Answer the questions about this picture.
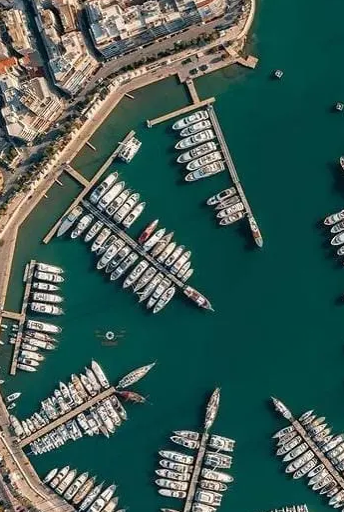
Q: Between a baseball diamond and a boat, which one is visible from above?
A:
boat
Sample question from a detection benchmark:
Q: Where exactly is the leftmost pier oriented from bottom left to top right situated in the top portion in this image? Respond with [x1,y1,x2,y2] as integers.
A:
[43,133,133,244]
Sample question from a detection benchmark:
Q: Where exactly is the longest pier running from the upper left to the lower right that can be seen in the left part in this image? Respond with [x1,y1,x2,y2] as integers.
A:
[80,198,187,290]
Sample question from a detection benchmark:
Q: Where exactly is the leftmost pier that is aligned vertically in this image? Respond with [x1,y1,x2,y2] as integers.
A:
[10,260,36,375]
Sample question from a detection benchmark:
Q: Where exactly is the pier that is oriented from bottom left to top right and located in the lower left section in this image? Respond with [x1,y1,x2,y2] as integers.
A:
[18,387,116,448]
